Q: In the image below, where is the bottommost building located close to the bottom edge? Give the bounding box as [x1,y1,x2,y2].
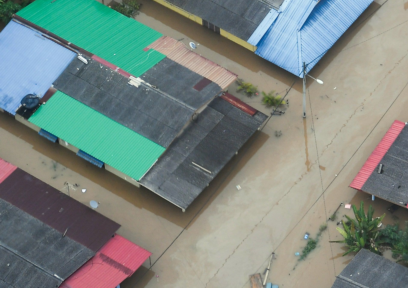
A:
[328,248,408,288]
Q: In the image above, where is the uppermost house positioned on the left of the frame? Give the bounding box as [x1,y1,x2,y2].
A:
[0,0,268,220]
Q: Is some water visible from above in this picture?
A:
Yes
